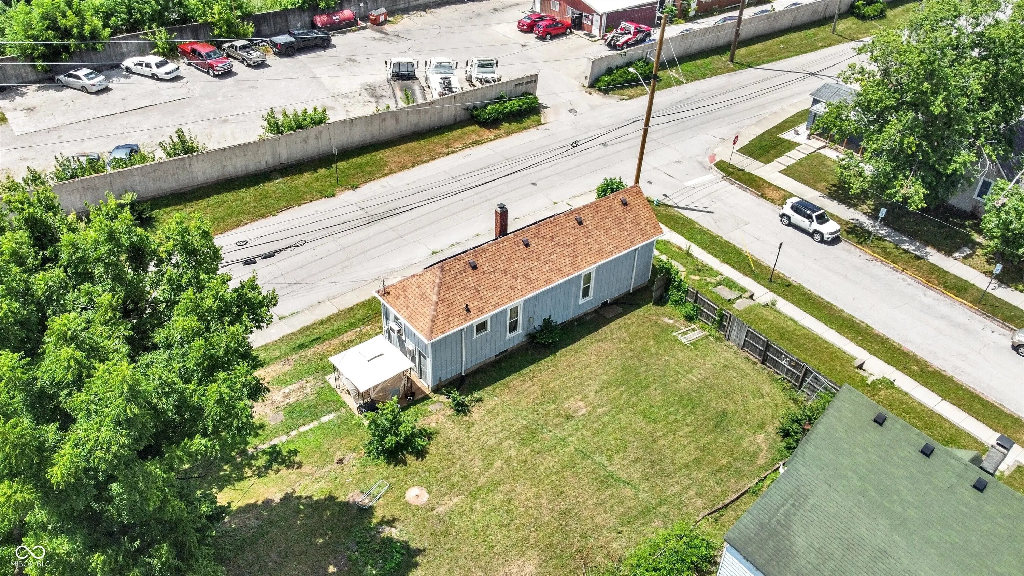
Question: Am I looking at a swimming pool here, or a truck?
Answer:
truck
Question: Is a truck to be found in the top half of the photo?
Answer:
Yes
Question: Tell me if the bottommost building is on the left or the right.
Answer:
right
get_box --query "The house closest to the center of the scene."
[371,185,669,390]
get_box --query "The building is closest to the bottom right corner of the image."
[718,382,1024,576]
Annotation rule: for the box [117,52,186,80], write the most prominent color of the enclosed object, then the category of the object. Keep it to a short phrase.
white car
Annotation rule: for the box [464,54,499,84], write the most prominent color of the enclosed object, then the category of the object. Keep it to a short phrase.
white truck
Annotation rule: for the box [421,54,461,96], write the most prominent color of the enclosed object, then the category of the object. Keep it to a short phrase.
white truck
